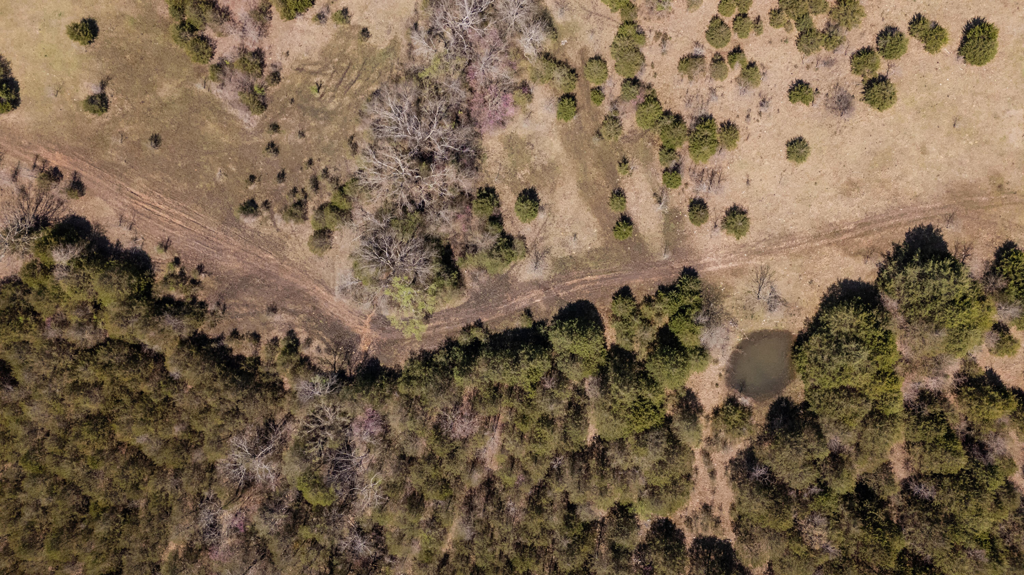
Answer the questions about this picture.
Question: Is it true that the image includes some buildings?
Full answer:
No, I can see no building in this picture.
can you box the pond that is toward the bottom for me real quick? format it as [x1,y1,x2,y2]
[722,328,800,405]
